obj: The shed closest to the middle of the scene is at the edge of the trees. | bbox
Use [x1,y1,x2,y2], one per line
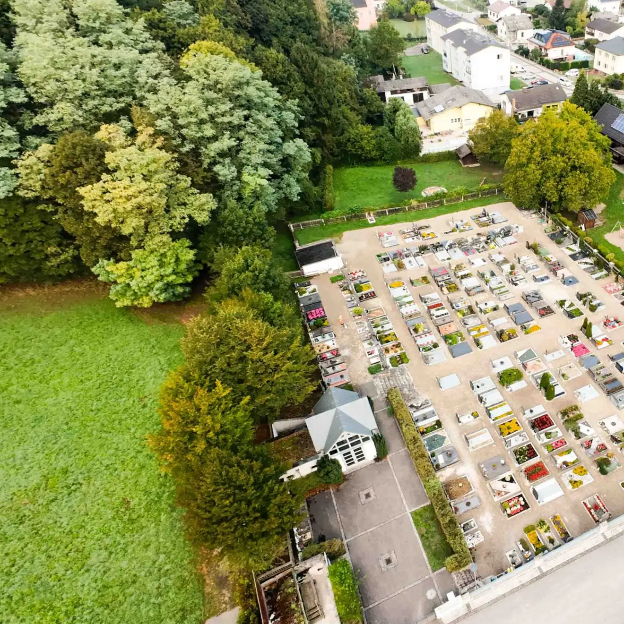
[294,239,344,280]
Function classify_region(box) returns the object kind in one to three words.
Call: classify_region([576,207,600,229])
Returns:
shed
